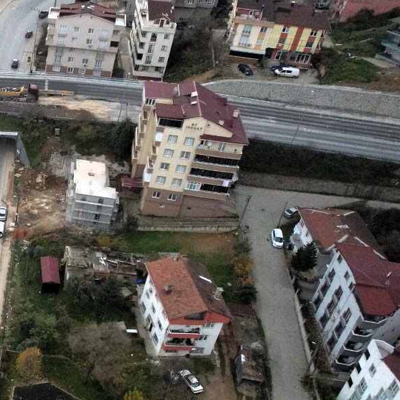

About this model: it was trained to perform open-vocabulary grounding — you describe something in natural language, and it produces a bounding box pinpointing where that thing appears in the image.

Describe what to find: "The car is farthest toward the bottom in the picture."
[181,370,204,396]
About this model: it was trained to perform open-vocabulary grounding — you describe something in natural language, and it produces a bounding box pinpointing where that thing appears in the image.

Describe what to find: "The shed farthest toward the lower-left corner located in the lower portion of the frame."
[32,254,61,294]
